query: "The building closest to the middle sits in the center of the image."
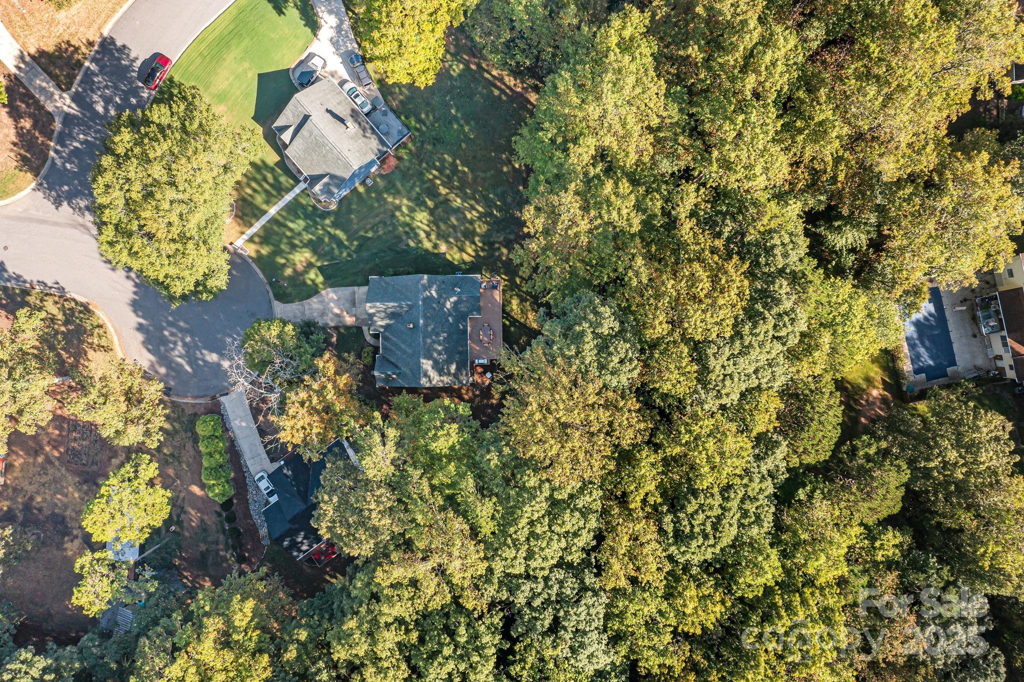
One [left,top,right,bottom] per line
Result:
[365,273,481,388]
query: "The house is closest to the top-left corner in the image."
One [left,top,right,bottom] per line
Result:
[272,76,392,206]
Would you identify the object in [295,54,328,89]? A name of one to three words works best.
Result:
car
